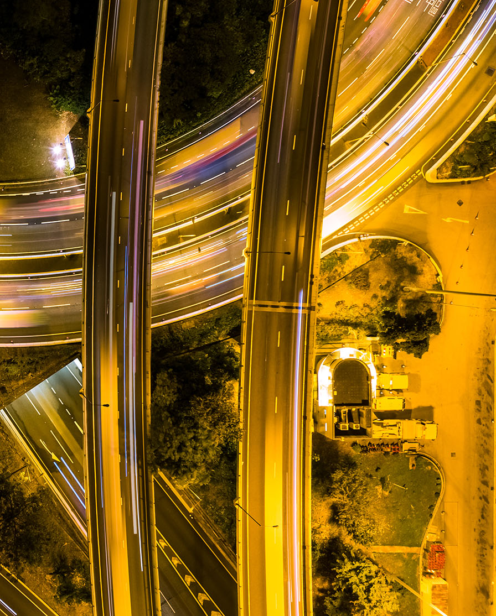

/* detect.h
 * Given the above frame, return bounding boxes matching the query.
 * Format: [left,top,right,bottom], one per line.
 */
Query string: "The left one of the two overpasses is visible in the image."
[81,0,170,616]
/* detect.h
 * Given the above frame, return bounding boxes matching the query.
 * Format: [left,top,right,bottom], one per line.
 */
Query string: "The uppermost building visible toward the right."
[317,346,375,440]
